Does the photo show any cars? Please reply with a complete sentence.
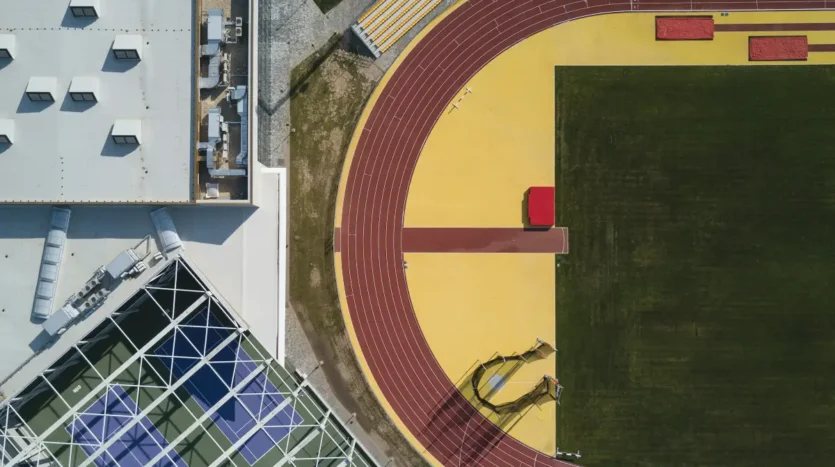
No, this view has no car in it.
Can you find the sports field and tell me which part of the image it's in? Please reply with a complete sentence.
The sports field appears toward the right of the photo.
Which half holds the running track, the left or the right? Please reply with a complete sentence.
It is on the right.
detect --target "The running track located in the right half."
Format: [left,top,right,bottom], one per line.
[333,0,835,467]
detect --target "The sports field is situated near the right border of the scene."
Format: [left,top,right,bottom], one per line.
[554,64,835,467]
